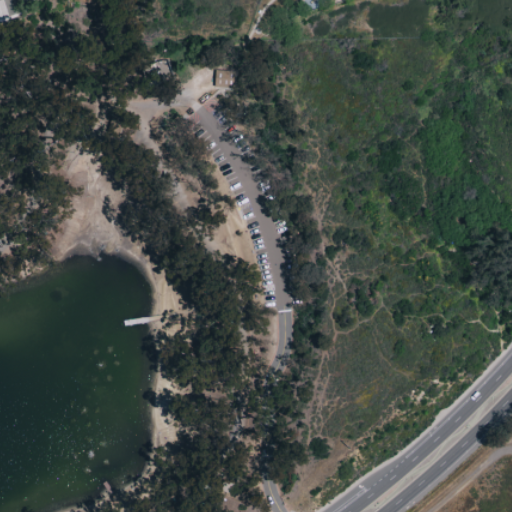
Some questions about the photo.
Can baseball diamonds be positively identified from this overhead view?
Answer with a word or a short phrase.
No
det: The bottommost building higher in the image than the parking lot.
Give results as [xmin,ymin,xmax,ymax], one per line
[216,69,236,87]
